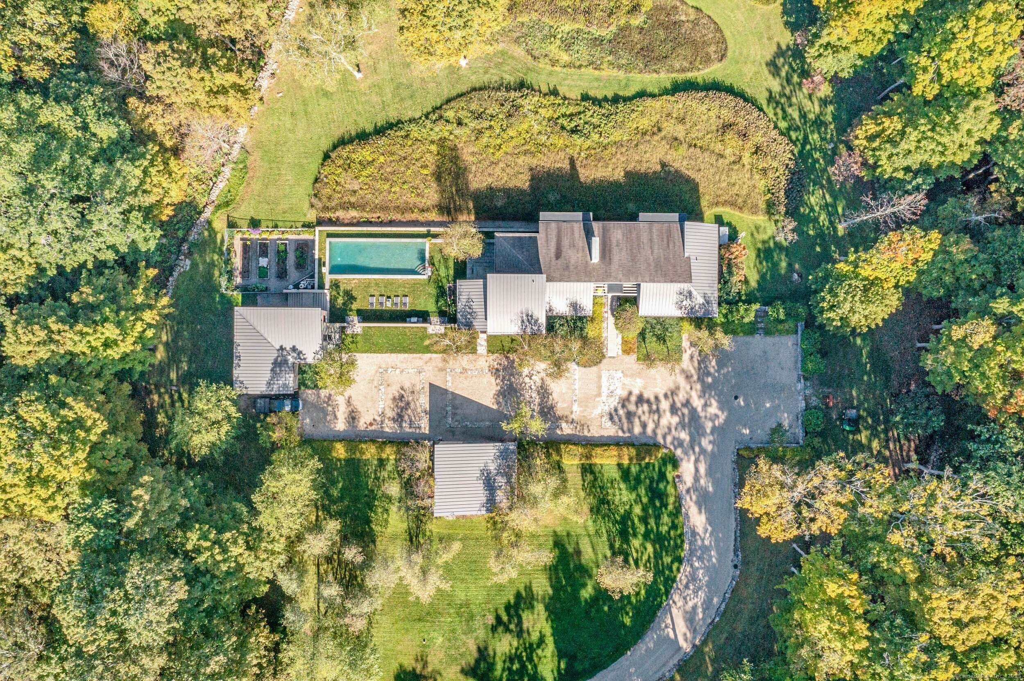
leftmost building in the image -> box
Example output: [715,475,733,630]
[233,307,333,394]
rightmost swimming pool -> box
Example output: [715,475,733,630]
[326,238,429,278]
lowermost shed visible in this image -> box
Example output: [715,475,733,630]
[434,436,517,518]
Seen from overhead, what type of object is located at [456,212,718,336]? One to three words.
house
